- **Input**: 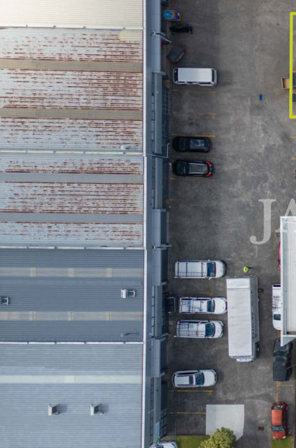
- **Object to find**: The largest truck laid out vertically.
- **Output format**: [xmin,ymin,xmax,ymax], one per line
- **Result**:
[224,278,260,367]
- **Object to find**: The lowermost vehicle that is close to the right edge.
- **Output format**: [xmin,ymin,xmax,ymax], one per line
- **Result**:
[269,401,289,438]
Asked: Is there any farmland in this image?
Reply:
No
